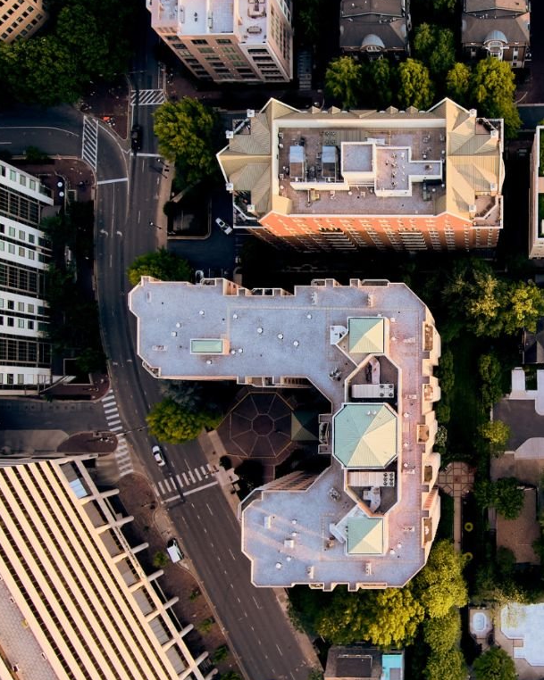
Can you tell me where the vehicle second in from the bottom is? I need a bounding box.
[150,446,164,467]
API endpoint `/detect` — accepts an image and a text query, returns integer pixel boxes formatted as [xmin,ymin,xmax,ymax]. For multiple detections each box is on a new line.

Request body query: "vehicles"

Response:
[214,216,232,235]
[128,122,140,146]
[162,538,182,566]
[150,446,164,467]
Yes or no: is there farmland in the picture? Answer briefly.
No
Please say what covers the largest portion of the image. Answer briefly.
buildings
